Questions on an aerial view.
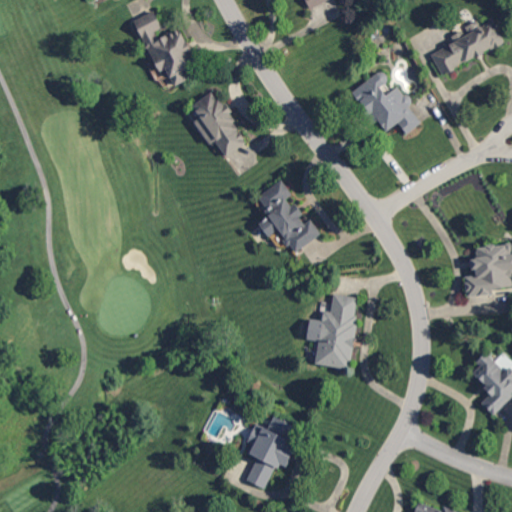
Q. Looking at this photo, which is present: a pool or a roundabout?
pool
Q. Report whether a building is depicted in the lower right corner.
Yes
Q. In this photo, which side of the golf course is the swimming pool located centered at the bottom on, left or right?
to the right of it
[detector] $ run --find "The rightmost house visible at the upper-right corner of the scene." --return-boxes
[430,21,505,79]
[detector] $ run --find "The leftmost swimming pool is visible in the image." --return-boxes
[204,408,245,444]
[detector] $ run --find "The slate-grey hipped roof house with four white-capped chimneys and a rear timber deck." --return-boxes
[258,180,322,254]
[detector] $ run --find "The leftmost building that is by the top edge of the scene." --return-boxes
[132,10,192,92]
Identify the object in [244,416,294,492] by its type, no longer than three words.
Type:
house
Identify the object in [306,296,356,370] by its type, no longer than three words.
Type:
house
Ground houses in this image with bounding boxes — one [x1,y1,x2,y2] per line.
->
[473,351,512,418]
[430,21,505,79]
[191,90,242,158]
[306,296,356,370]
[258,180,322,254]
[458,240,512,302]
[348,68,424,136]
[244,416,294,492]
[414,502,454,512]
[132,10,192,92]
